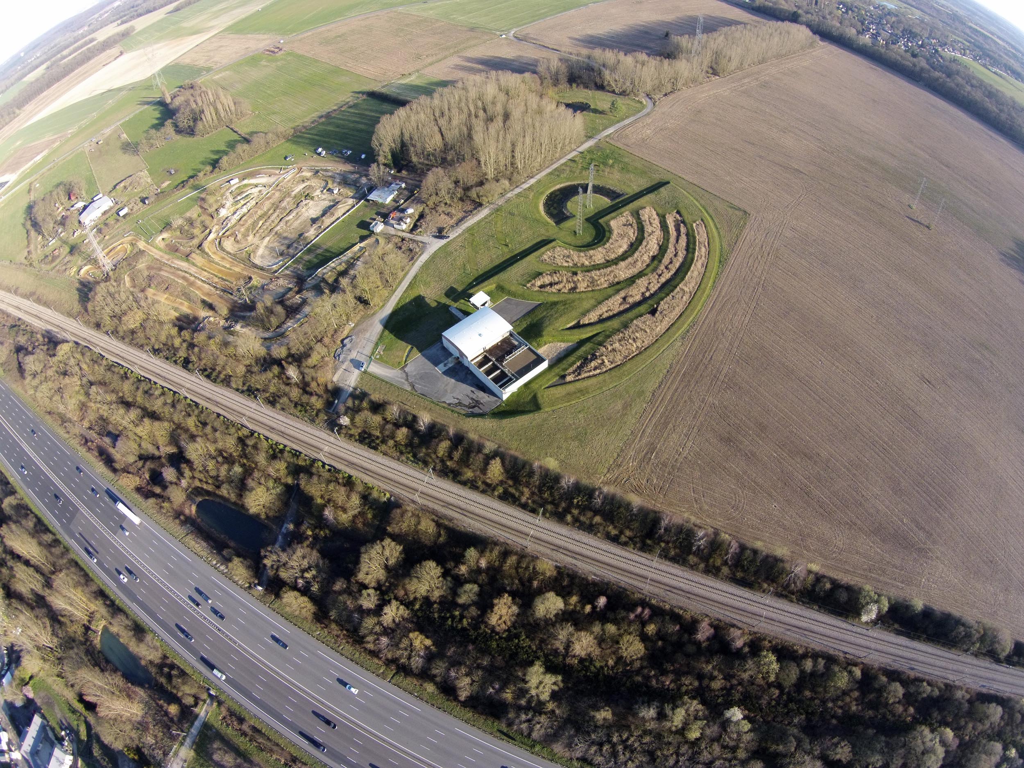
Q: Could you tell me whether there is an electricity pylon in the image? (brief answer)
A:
Yes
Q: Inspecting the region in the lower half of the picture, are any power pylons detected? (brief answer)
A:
No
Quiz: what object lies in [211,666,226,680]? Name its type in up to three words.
vehicle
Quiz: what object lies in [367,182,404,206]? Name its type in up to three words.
building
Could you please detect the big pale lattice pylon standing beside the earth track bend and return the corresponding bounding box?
[78,224,114,279]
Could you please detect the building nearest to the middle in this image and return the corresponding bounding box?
[442,305,548,399]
